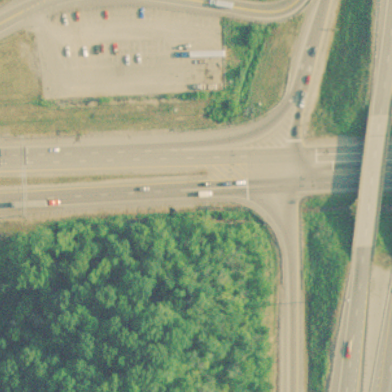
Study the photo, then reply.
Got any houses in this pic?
No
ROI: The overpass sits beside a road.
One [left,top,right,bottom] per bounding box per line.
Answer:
[352,115,392,248]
